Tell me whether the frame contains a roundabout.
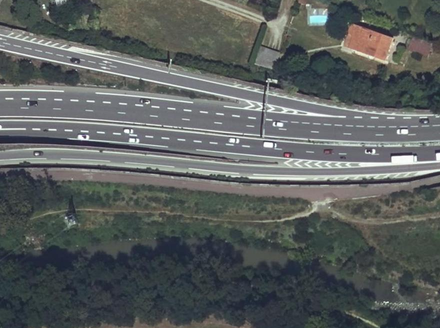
No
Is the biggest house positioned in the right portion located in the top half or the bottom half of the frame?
top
